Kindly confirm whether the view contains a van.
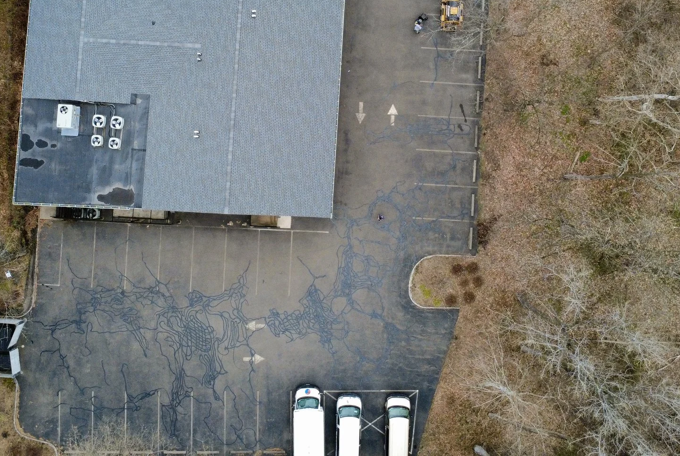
Yes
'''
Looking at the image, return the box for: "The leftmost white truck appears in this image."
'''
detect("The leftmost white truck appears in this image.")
[291,386,327,456]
